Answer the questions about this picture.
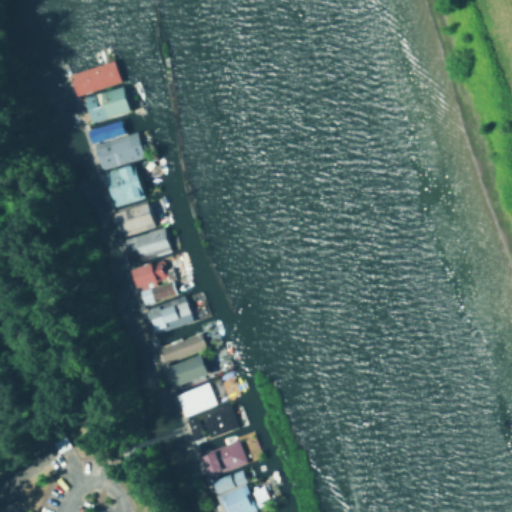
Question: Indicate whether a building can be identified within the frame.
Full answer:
Yes, looking at the shot, I can spot a building.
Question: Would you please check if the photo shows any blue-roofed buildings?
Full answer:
Yes, you can see a blue-roofed building in this photo.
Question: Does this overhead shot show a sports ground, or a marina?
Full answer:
What you see here is a marina.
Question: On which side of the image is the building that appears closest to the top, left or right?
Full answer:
The building that appears closest to the top appears in the left half of the scene.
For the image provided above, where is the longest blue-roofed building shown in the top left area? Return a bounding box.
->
[88,120,128,144]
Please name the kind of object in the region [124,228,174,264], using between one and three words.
boat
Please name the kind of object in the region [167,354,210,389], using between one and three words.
boat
